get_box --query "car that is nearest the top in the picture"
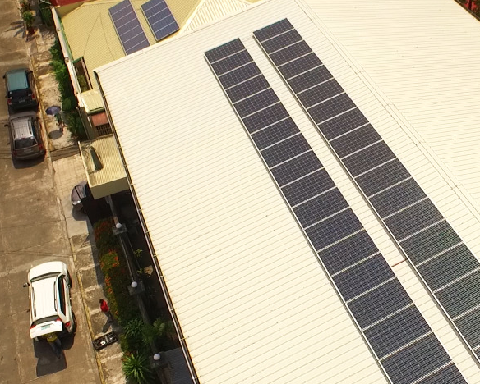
[0,70,40,117]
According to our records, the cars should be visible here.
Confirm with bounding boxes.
[26,265,81,353]
[5,114,47,165]
[0,70,40,117]
[67,186,135,218]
